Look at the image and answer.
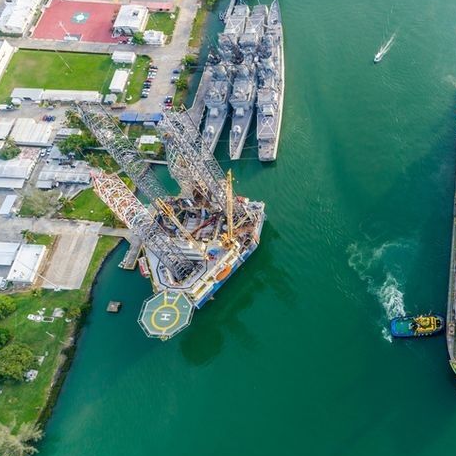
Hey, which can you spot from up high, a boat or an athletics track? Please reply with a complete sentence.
The one in the frame is a boat.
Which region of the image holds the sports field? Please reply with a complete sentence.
You can find the sports field in the top left area of the picture.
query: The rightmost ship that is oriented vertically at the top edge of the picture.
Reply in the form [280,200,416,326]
[256,0,285,166]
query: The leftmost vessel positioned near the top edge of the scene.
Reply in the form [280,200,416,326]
[210,4,249,158]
